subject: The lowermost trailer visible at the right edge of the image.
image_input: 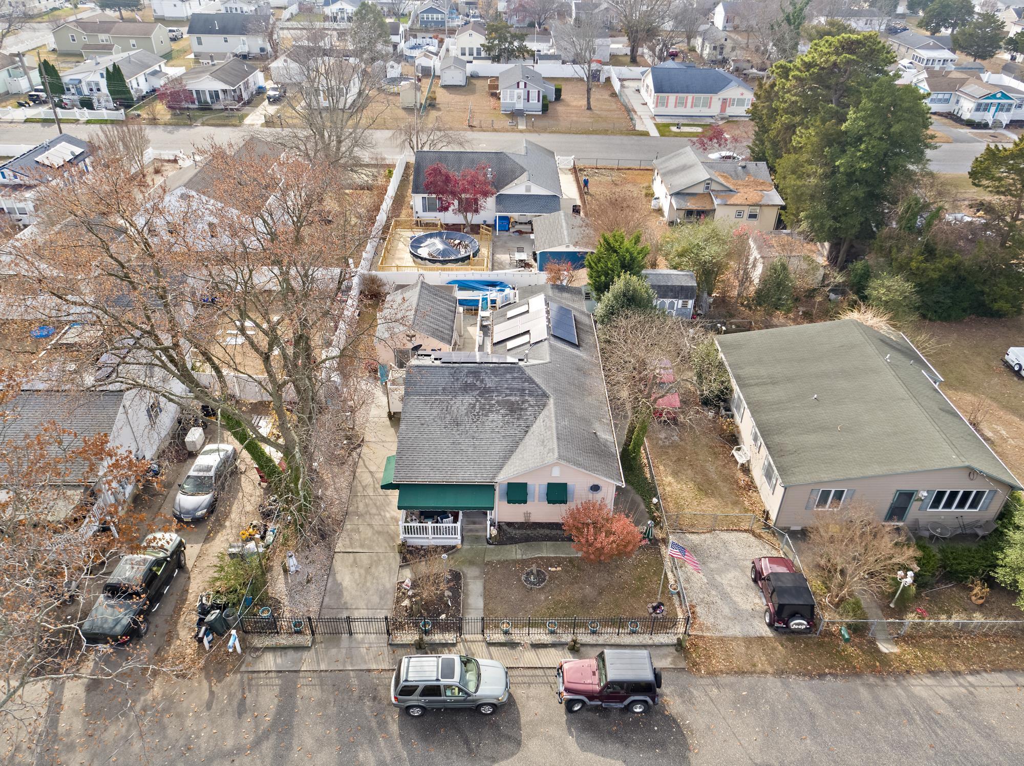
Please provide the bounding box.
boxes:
[981,341,1024,381]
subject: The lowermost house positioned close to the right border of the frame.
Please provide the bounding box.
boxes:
[712,314,1024,559]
